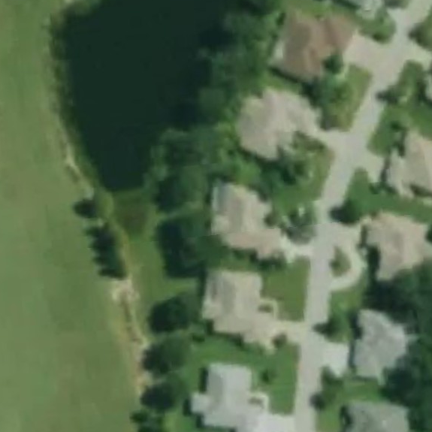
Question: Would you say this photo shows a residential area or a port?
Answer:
residential area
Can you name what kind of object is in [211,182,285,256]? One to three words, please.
house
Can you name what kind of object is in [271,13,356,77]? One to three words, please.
house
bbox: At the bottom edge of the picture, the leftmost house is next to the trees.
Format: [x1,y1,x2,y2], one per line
[191,363,263,432]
